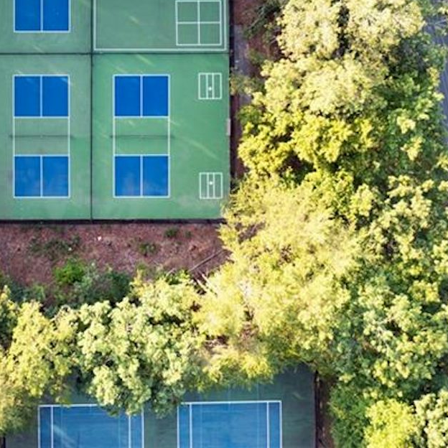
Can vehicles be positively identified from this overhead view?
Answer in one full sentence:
No, no vehicle is visible in the view.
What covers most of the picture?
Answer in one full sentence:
The largest share of the image is taken up by trees.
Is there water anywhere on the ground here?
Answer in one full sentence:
No, no water is visible.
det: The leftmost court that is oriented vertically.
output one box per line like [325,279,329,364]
[13,75,70,198]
